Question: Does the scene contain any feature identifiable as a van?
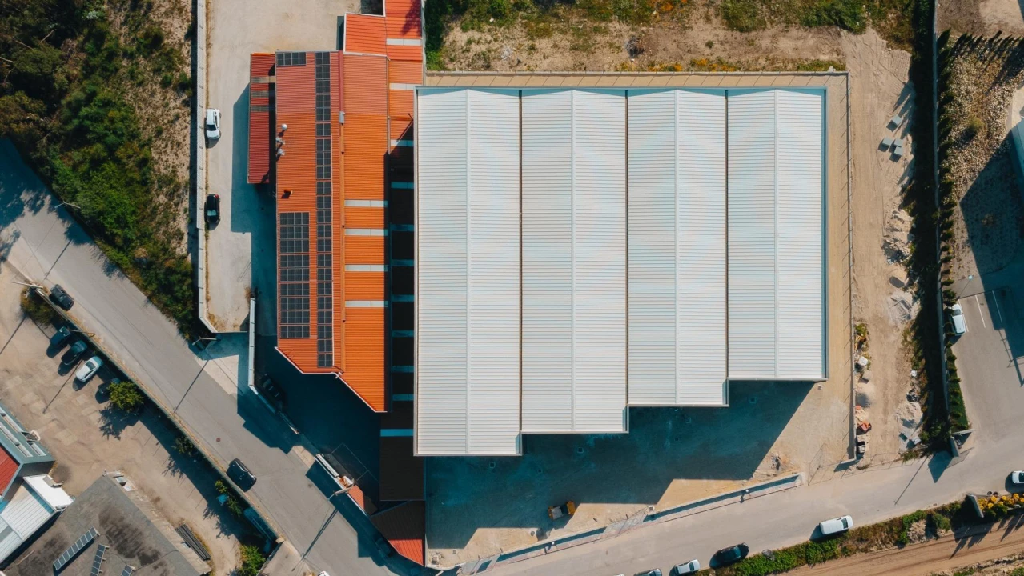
Yes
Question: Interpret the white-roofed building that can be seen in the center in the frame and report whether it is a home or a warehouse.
warehouse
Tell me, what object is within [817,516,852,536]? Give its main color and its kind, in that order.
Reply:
white vehicle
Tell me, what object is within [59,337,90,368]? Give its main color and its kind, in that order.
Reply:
black car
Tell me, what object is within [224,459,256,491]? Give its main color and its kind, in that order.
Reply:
black car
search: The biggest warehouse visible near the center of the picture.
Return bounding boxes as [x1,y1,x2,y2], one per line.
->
[414,86,827,457]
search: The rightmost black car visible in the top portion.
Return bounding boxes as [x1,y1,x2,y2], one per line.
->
[204,195,220,225]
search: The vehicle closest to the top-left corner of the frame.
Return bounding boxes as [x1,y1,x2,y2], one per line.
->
[205,109,221,139]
